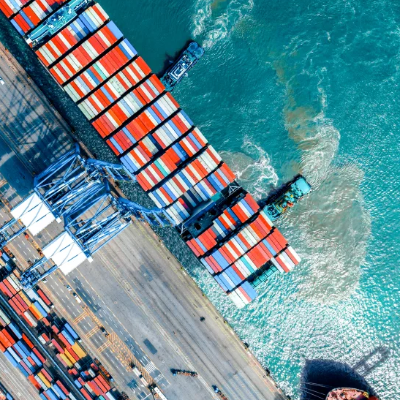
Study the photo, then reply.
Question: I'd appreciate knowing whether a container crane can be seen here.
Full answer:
Yes, this view includes a container crane.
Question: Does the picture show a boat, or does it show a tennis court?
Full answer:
Looking from above, you can make out a boat.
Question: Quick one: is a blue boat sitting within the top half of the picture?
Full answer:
Yes, a blue boat shows up within the top half of the picture.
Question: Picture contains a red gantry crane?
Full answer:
No, there is no red gantry crane in the image.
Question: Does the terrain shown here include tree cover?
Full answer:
No, the picture contains no tree cover.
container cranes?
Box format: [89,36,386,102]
[0,141,135,254]
[26,179,173,295]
